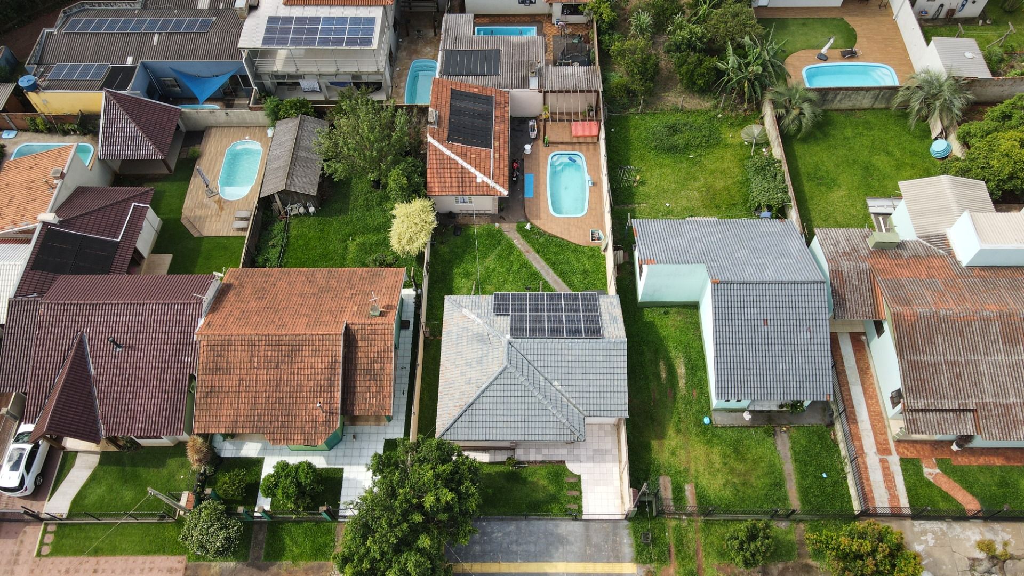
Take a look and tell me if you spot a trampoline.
Yes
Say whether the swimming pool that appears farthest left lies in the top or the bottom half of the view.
top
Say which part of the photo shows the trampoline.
top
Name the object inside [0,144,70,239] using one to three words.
house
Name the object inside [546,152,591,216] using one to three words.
swimming pool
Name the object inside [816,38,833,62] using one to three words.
umbrella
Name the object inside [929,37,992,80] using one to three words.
shed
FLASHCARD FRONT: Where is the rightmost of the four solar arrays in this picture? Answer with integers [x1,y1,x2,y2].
[494,292,601,338]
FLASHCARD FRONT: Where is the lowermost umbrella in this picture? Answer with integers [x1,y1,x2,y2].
[197,168,218,197]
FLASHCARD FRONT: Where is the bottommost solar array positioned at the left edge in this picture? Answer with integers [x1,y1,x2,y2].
[47,64,109,79]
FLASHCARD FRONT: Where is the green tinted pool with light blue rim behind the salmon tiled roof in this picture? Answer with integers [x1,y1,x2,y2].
[10,143,94,163]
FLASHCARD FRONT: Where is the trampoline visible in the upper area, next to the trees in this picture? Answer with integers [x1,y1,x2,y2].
[558,32,594,66]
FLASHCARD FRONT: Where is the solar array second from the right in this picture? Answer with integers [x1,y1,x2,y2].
[262,17,375,47]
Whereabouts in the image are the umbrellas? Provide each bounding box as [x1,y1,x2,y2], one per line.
[197,168,218,197]
[816,38,833,62]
